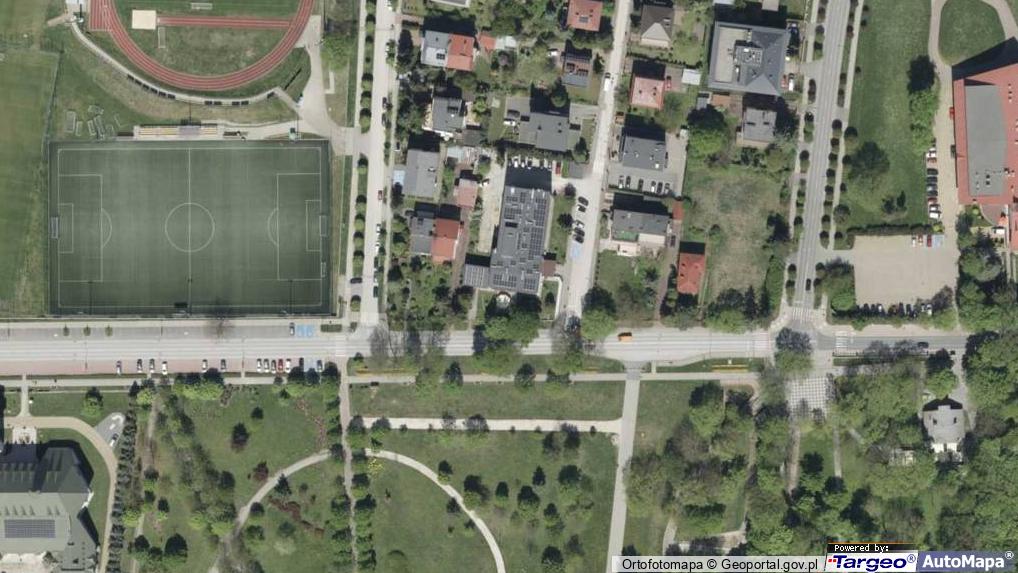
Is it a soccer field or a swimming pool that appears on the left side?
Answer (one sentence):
Visible on the left side is a soccer field.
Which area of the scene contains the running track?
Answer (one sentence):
The running track is located in the top left region of the scene.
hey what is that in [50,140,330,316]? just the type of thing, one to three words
soccer field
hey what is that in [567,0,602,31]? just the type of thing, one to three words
house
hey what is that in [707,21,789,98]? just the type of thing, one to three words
building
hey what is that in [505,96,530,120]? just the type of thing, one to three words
building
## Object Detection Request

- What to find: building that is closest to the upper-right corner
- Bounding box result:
[953,64,1018,206]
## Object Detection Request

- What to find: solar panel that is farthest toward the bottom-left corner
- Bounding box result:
[5,519,55,538]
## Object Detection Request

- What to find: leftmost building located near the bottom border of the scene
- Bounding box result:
[0,447,98,573]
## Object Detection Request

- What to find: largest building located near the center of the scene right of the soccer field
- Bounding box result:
[491,185,551,295]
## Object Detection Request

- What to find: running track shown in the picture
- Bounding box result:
[89,0,314,91]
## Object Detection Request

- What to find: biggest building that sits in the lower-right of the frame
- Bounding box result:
[923,404,965,444]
